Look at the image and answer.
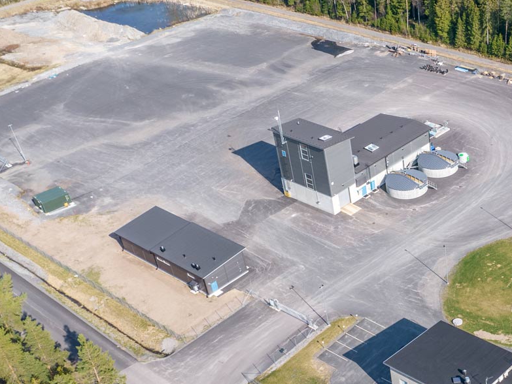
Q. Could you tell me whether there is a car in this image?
No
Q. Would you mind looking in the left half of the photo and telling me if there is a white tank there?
No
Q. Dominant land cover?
paved ground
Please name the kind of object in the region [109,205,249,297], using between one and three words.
building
